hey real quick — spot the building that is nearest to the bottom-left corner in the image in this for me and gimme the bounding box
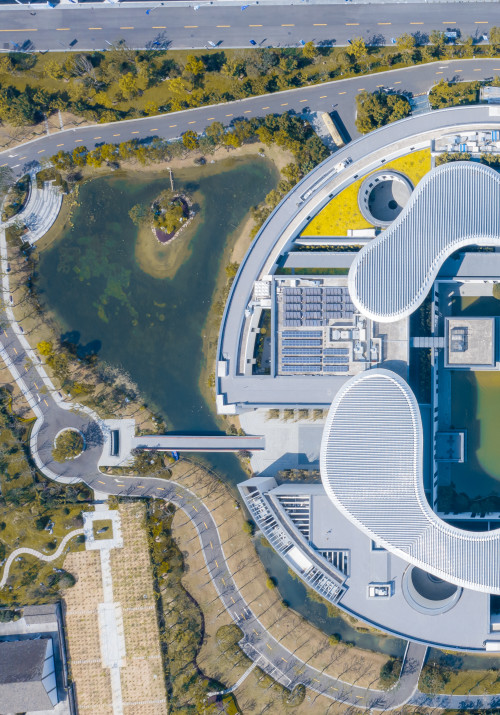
[0,637,58,710]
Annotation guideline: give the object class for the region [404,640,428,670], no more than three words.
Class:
bridge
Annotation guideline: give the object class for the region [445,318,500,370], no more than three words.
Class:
building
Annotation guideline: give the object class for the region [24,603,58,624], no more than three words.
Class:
shed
